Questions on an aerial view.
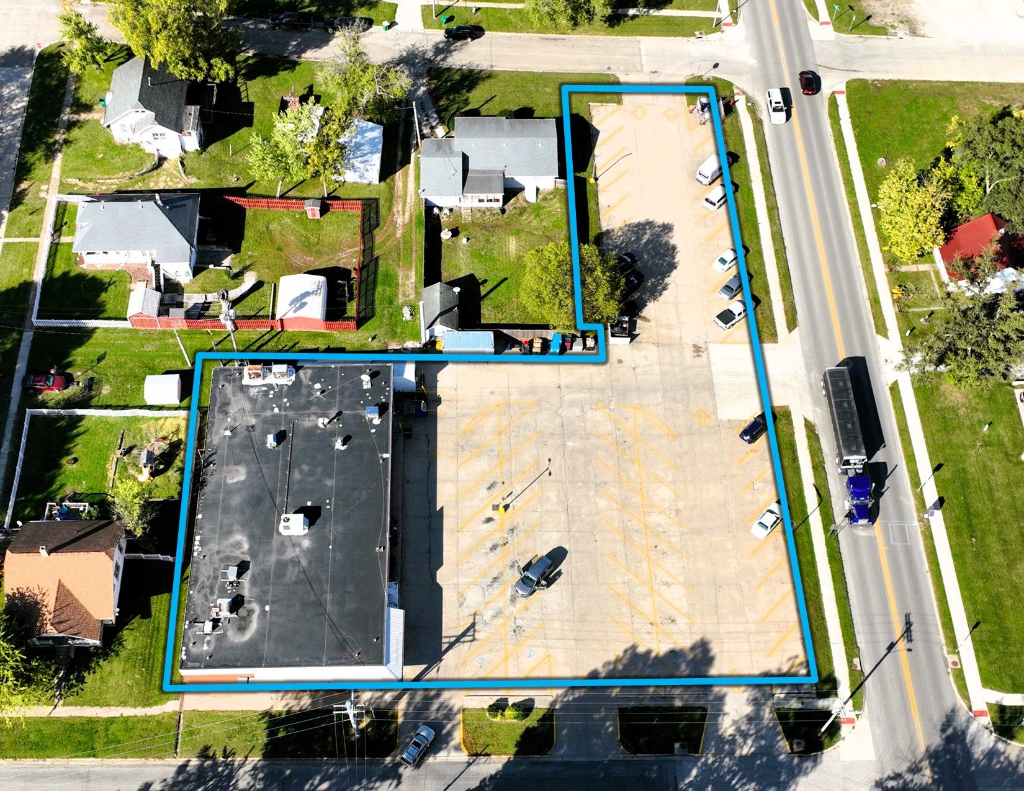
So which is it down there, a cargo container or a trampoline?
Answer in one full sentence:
The image shows a cargo container.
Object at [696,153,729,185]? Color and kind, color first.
white vehicle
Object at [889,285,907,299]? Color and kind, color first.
yellow work vehicle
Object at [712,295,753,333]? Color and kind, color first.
white truck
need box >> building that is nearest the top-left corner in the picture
[103,57,221,167]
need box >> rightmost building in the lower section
[179,357,417,693]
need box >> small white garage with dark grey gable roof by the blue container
[417,279,459,346]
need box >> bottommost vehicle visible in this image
[396,719,436,772]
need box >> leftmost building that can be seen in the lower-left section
[2,521,138,669]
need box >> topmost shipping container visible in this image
[443,331,495,360]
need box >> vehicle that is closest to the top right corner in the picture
[800,70,817,98]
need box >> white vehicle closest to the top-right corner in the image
[768,90,787,121]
